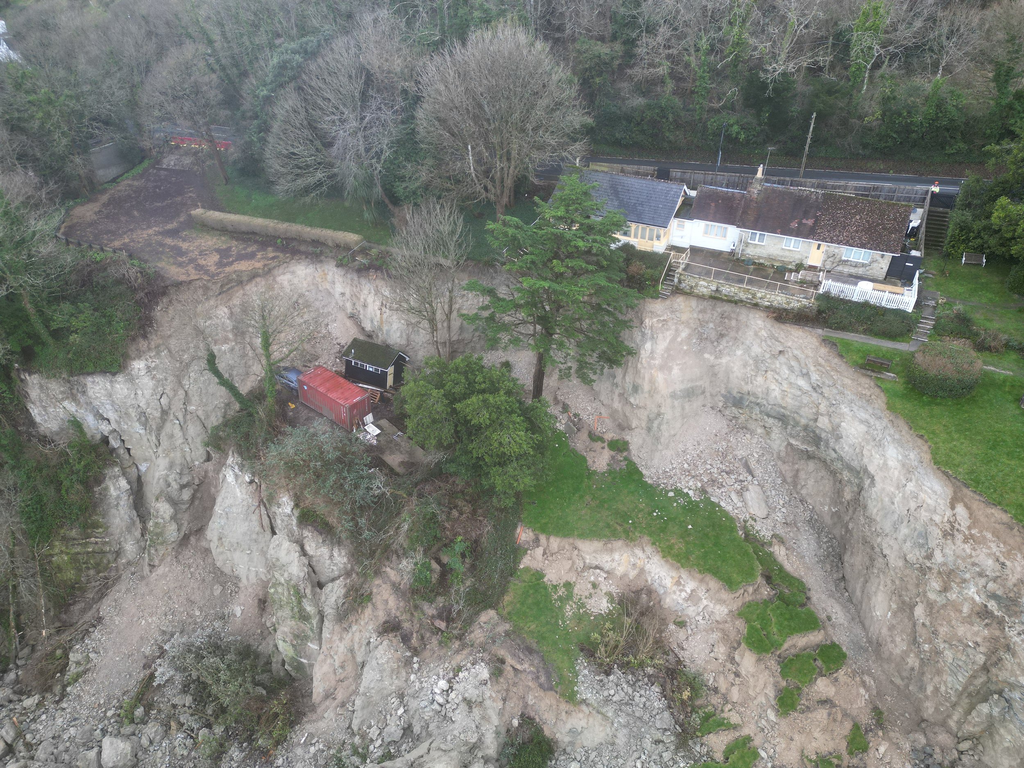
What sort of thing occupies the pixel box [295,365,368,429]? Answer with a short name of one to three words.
shipping container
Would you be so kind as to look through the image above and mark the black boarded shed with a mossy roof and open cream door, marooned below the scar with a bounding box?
[338,341,406,390]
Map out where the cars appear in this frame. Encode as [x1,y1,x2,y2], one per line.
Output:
[281,373,299,393]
